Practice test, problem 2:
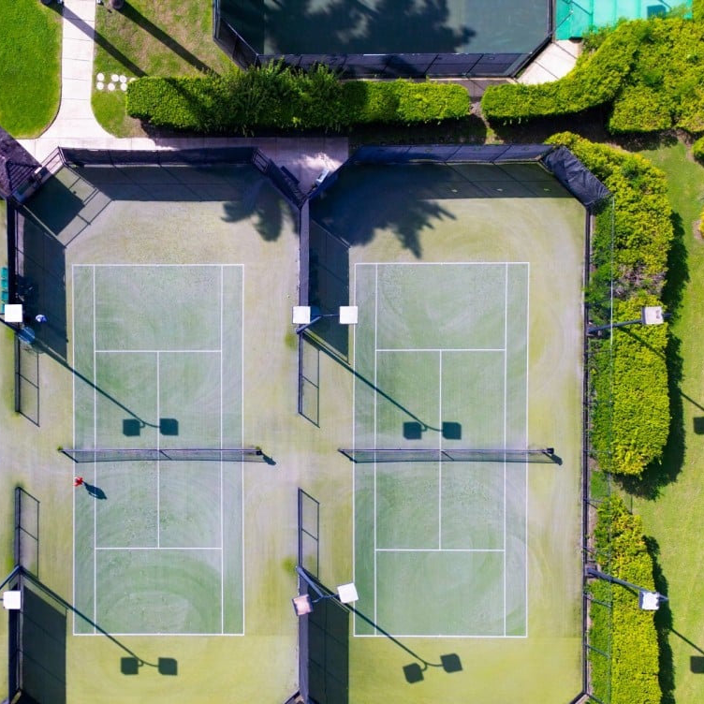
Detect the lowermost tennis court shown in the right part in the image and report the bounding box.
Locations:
[299,163,587,704]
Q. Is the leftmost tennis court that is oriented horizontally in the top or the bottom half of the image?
top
